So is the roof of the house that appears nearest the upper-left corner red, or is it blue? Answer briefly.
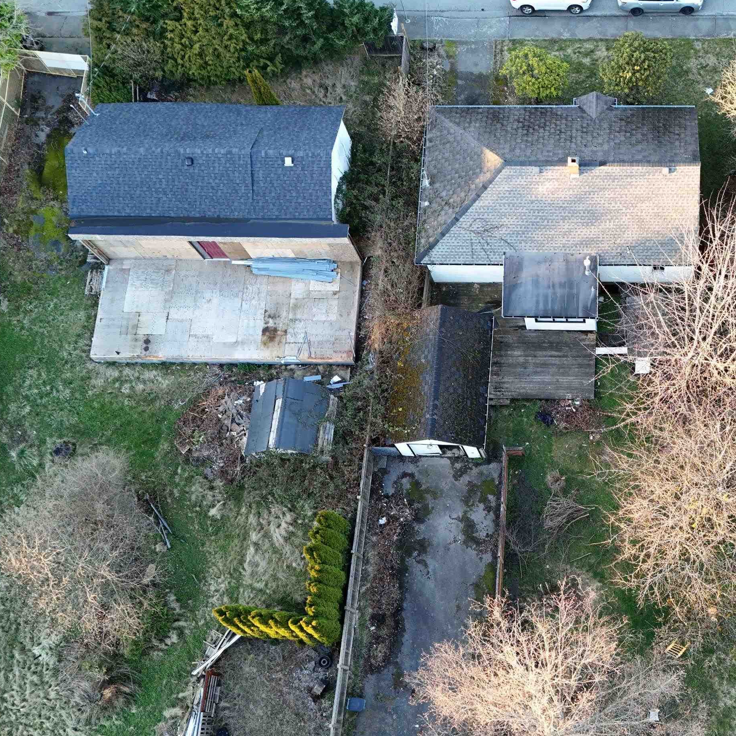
blue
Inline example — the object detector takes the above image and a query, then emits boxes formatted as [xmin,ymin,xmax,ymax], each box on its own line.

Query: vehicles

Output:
[509,0,592,16]
[615,0,704,16]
